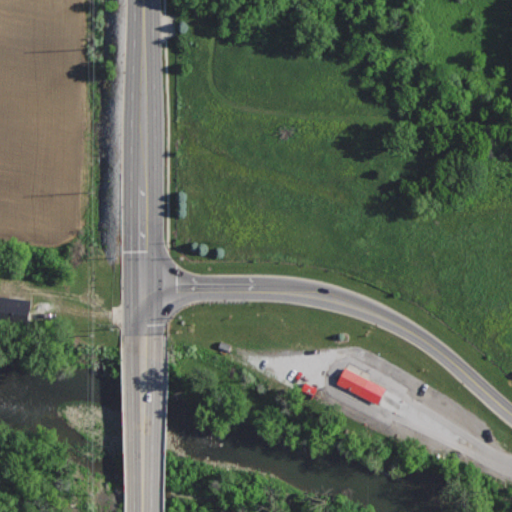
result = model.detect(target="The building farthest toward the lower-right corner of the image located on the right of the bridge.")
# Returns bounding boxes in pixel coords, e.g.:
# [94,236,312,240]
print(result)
[338,370,385,404]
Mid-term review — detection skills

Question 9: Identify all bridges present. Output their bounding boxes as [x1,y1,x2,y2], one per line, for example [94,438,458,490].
[121,334,168,512]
